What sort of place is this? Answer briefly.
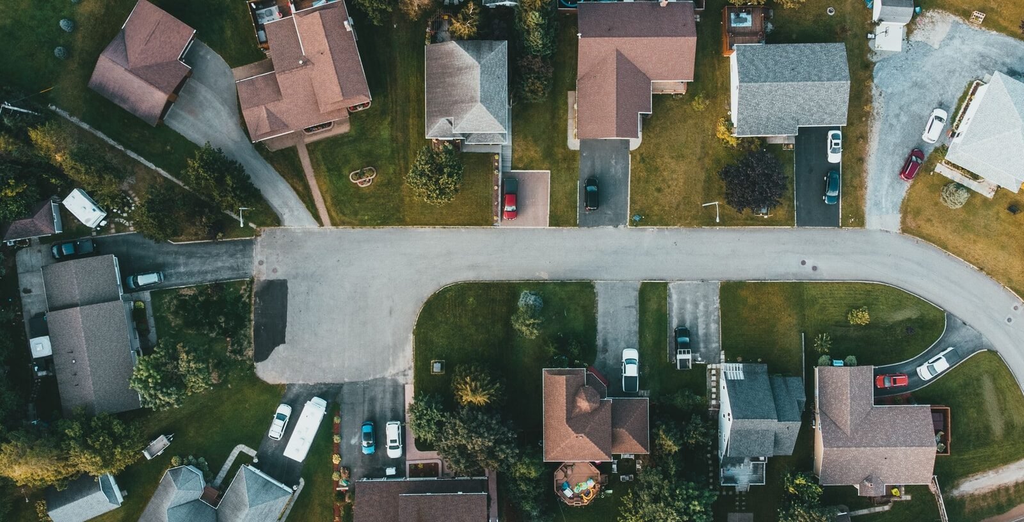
residential area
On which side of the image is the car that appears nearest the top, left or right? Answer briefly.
right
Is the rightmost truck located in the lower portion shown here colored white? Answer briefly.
Yes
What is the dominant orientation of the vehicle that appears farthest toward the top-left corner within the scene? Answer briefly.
diagonally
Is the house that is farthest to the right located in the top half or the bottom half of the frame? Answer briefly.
top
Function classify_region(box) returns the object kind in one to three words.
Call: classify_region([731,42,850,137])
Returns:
house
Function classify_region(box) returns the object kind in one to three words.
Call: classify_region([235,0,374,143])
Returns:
house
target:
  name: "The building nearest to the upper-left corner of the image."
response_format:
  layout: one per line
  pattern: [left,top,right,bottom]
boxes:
[87,0,197,127]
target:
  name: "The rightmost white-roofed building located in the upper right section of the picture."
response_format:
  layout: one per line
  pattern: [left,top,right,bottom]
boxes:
[941,70,1024,195]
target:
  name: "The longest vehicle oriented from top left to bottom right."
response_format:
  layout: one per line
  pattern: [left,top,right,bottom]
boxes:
[62,189,107,227]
